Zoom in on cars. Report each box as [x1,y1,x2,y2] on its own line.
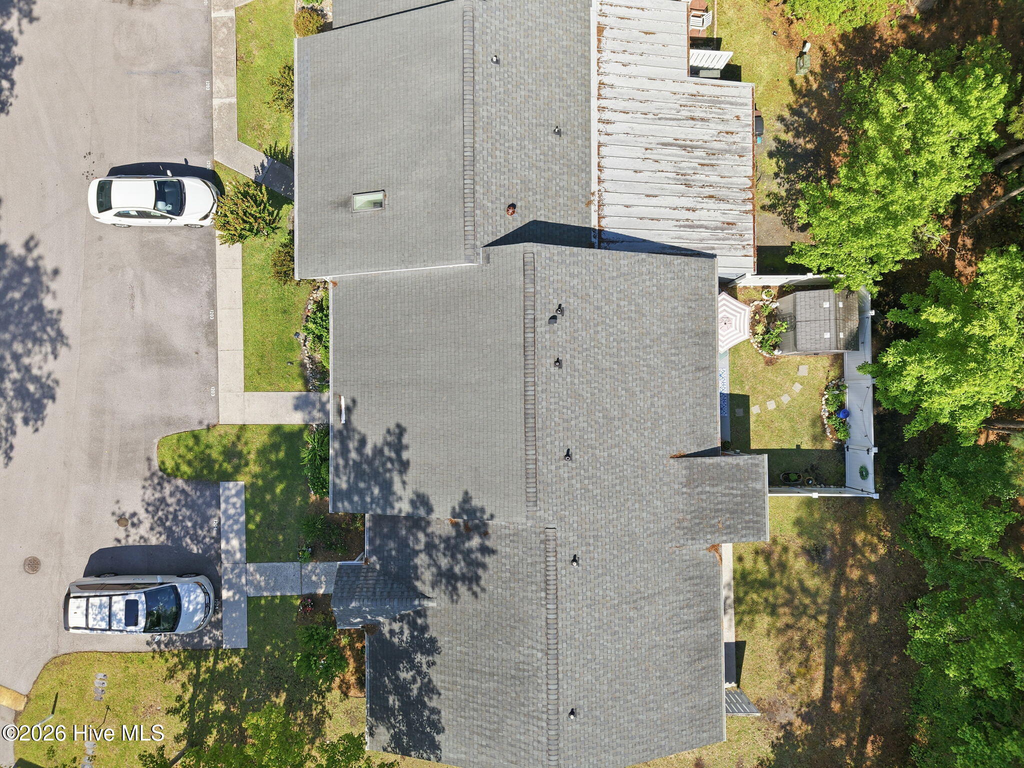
[65,571,214,639]
[88,166,225,228]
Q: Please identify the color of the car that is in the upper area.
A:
white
